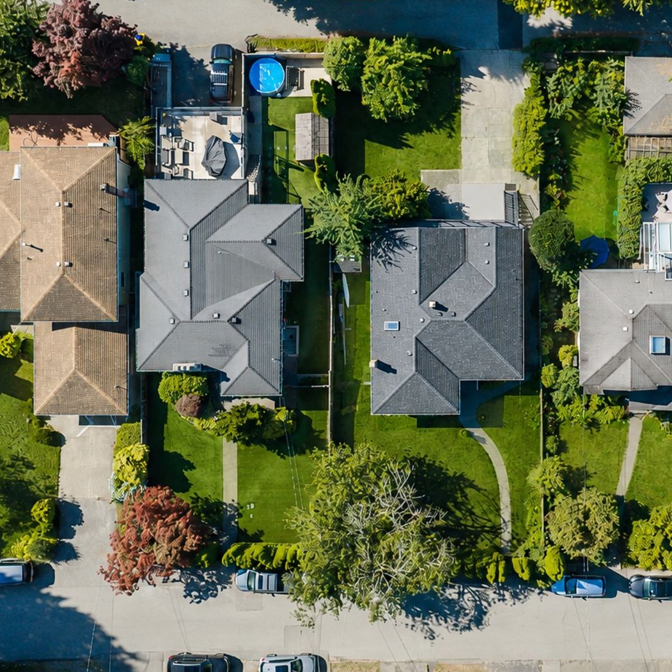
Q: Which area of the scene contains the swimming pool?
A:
top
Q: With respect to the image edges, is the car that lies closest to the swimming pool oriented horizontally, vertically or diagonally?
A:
vertically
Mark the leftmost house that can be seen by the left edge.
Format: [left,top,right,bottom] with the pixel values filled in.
[0,145,145,417]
